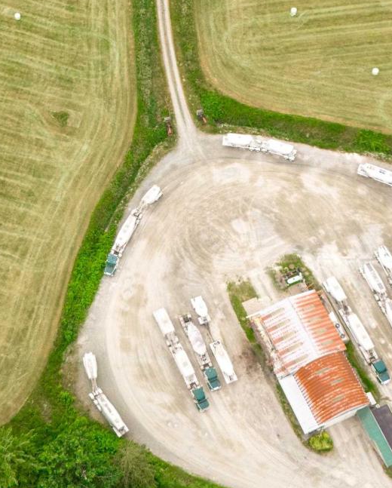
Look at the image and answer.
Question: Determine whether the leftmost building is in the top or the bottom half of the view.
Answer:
bottom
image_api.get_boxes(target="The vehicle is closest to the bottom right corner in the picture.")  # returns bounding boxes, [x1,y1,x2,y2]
[370,343,392,387]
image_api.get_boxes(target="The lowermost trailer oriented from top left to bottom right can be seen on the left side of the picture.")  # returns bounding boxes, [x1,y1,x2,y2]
[92,389,128,436]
